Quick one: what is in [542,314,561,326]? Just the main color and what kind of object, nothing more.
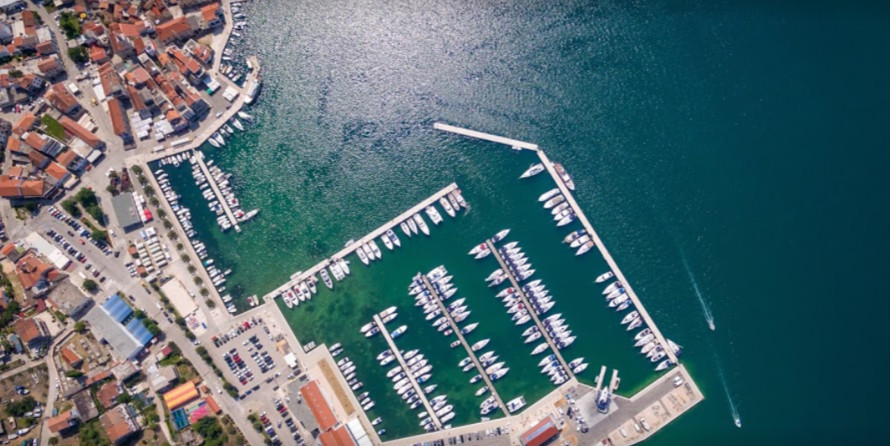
white boat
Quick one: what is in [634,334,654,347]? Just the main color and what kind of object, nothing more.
white boat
